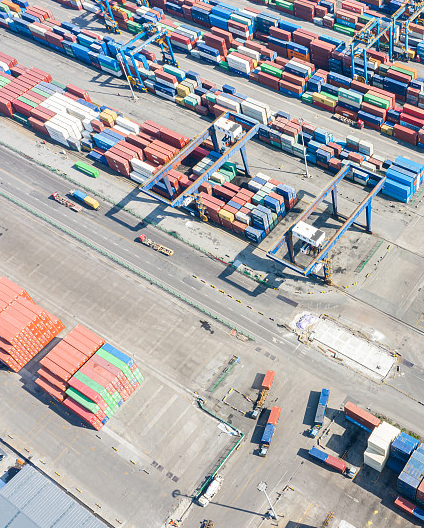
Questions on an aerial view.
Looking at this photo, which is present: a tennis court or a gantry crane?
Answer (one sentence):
I can see a gantry crane in this picture.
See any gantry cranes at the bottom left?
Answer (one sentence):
No, no gantry crane appears at the bottom left.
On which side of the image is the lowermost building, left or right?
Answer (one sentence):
The lowermost building is on the left side of the image.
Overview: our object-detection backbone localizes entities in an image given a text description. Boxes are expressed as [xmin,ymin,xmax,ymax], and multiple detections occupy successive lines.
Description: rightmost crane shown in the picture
[389,0,424,59]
